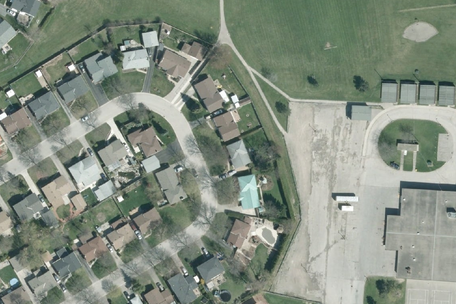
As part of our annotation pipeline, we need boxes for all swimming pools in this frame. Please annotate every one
[262,228,275,246]
[220,291,232,302]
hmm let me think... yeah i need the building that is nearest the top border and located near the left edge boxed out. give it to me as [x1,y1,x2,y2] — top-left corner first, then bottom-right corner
[9,0,40,18]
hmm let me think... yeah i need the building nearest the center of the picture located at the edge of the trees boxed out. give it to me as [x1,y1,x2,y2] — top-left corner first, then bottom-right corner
[224,140,250,171]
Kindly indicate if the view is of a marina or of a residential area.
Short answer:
residential area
